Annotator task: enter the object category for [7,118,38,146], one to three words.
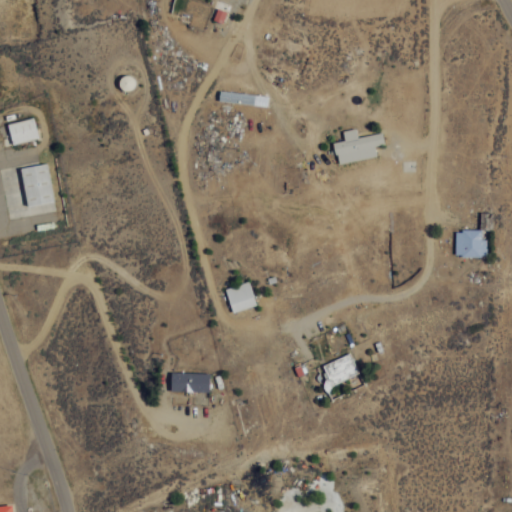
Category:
shed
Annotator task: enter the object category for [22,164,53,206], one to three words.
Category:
building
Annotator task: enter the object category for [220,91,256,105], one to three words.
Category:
barn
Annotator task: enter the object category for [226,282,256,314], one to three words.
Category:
house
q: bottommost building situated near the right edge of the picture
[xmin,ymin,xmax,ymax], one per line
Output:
[458,230,488,258]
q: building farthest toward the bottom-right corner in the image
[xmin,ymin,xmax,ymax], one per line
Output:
[322,354,359,392]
